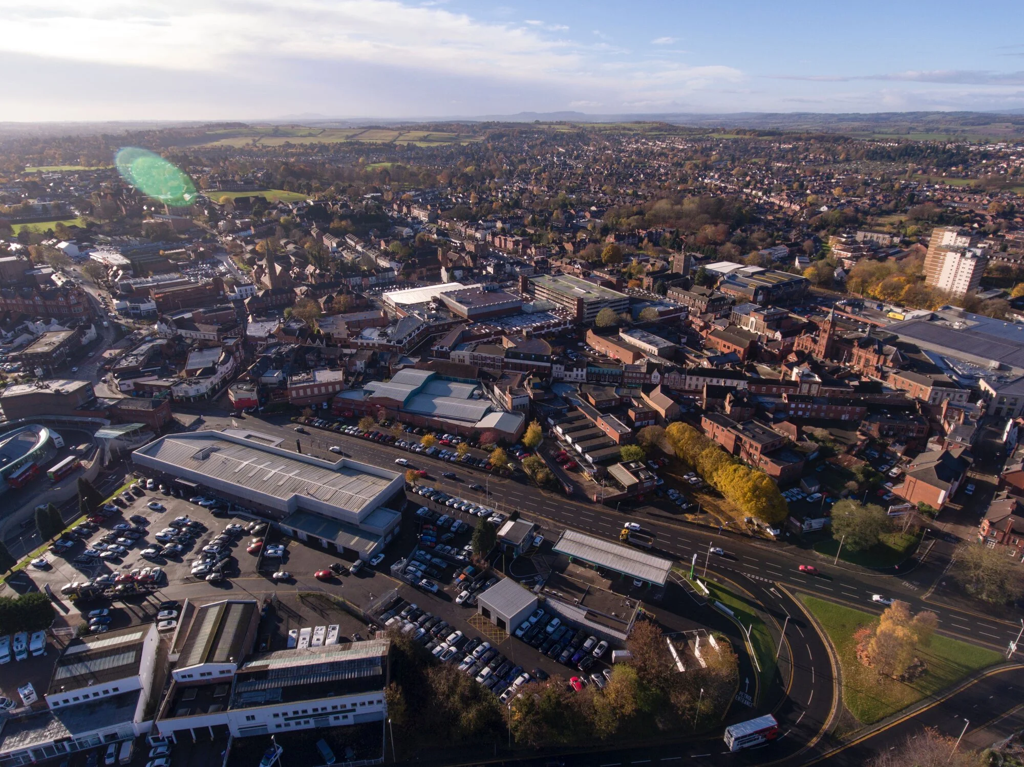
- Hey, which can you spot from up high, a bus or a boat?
bus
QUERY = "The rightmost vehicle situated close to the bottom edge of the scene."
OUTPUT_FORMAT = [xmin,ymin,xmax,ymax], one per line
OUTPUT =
[723,707,786,748]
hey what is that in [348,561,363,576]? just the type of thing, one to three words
car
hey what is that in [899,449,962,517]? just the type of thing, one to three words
building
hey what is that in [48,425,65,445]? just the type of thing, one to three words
vehicle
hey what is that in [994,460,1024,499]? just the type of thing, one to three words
house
